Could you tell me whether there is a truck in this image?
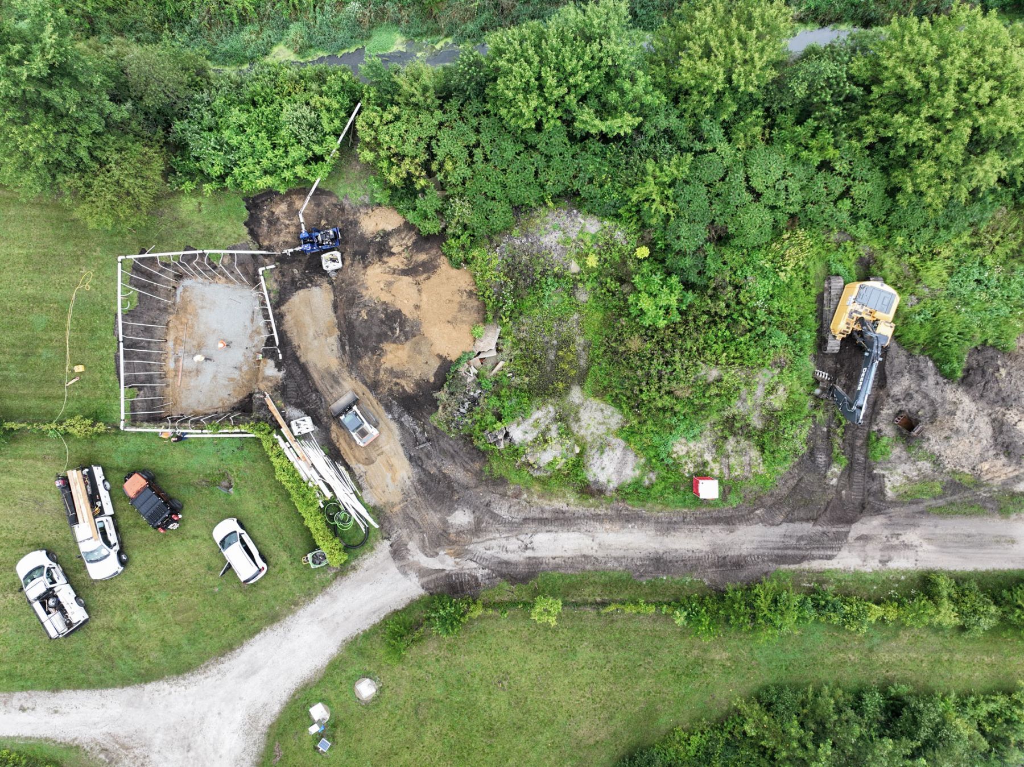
Yes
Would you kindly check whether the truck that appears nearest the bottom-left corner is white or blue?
white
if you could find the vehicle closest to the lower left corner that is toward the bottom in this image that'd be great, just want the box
[19,550,92,637]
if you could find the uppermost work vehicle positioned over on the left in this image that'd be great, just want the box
[335,389,387,452]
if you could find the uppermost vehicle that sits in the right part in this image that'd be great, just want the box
[821,272,901,425]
